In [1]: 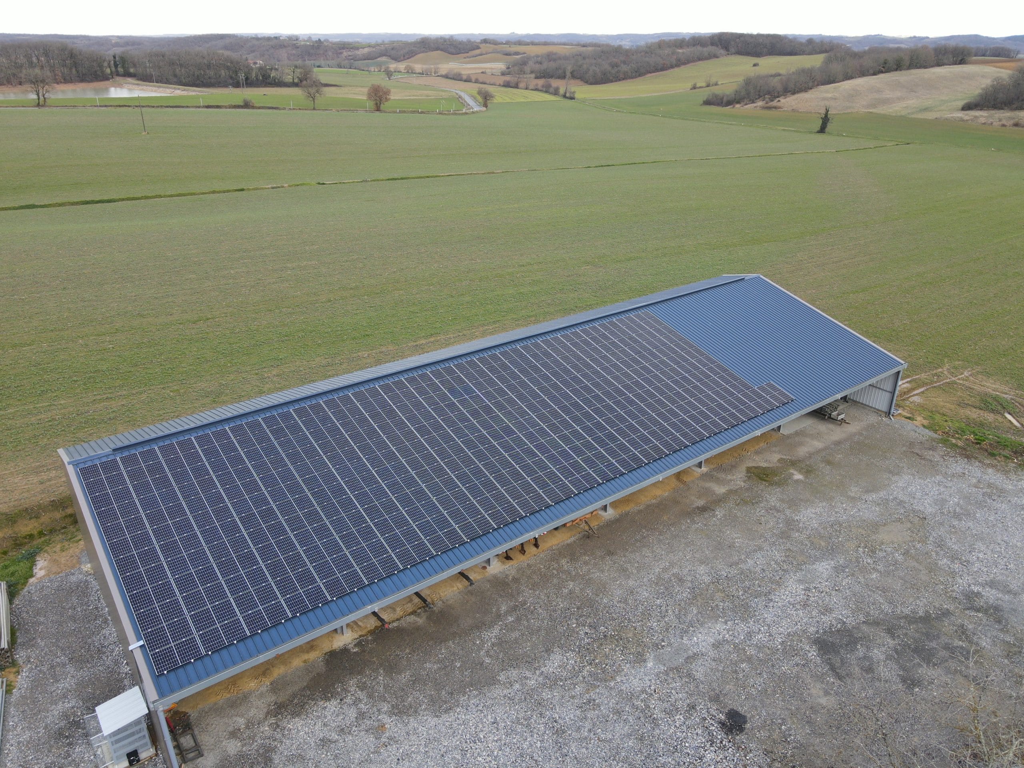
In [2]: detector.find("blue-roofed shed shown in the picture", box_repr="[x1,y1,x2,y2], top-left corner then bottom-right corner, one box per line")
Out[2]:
[56,274,910,768]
